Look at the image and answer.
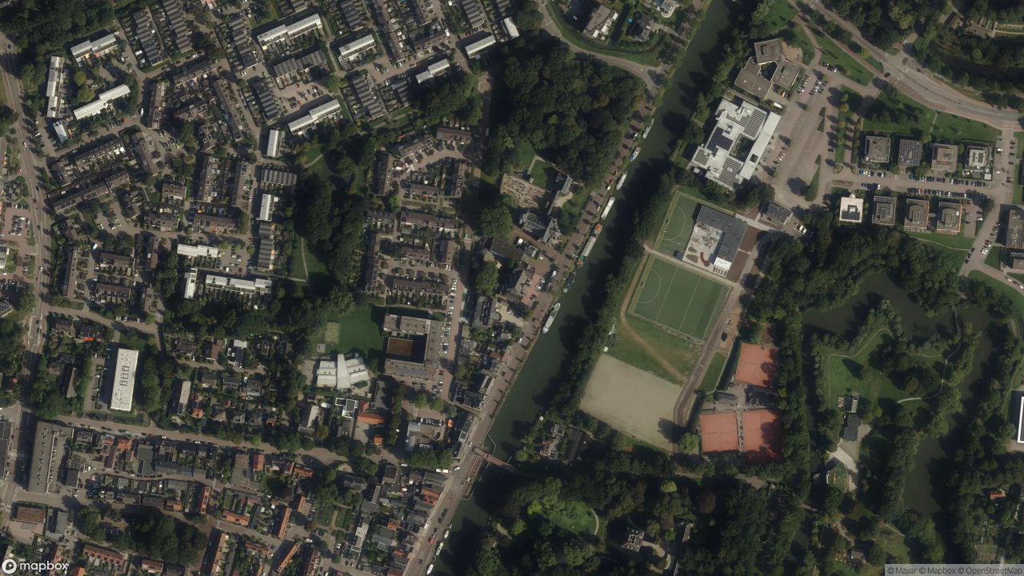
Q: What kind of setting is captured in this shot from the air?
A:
residential area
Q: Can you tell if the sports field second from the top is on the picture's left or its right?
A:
right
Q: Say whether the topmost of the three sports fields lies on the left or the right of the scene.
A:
right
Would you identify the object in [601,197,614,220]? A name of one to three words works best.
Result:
boat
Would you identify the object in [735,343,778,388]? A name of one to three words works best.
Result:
tennis court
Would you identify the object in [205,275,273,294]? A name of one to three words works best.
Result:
building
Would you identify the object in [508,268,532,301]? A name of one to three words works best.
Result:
house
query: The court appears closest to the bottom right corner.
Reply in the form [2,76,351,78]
[741,409,782,462]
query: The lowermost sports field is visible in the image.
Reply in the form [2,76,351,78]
[581,354,685,452]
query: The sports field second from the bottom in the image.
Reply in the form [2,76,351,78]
[628,254,730,345]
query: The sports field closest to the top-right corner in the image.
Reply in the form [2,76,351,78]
[654,190,736,268]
